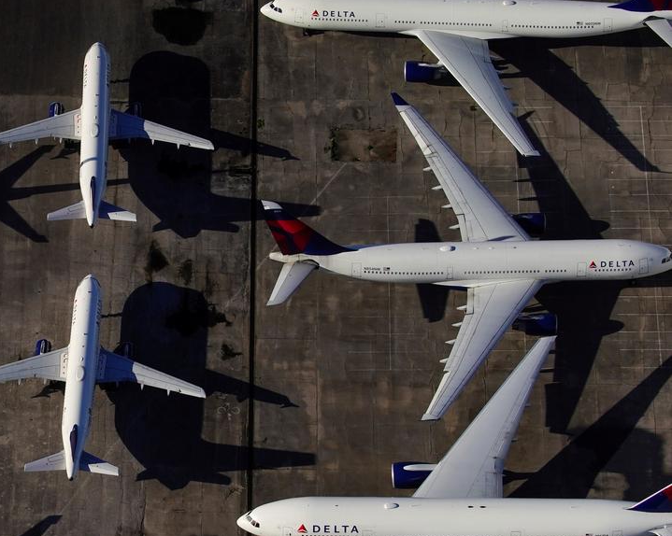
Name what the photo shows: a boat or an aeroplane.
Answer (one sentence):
The one in the frame is an aeroplane.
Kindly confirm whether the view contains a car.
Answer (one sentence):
No, I can't see a single car in this photo.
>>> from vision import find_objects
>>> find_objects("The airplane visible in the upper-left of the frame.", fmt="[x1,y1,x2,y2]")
[0,44,211,226]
